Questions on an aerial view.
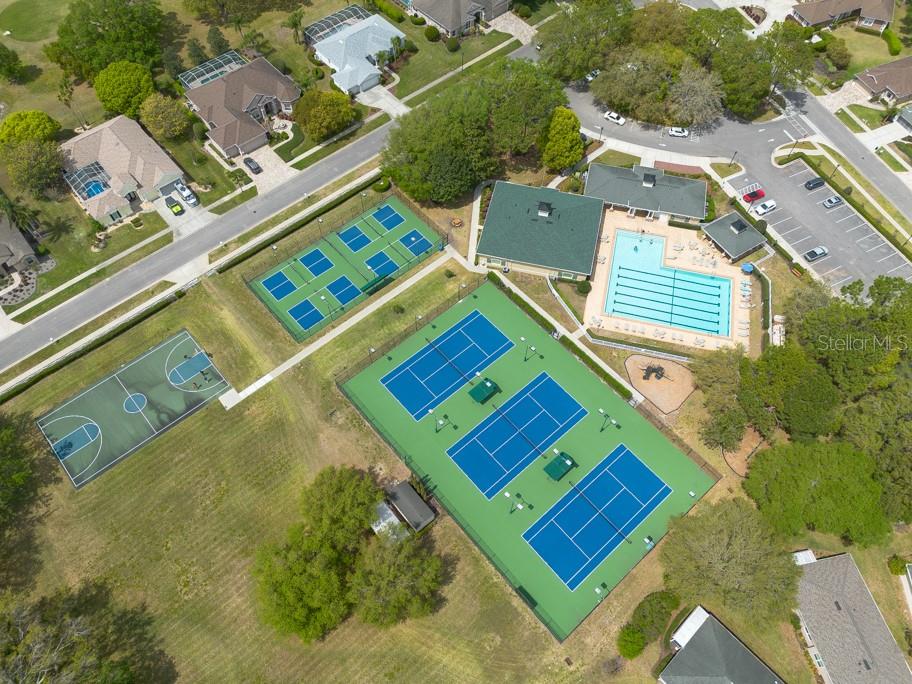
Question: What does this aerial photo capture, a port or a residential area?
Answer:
residential area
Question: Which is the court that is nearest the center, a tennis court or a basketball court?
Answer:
tennis court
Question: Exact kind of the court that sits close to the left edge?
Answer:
basketball court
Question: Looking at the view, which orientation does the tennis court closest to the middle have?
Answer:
diagonally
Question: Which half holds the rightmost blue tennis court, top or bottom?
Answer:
bottom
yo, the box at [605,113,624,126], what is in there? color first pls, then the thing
white vehicle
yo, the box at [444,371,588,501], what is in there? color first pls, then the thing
blue tennis court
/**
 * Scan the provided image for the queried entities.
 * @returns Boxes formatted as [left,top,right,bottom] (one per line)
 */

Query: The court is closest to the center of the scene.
[378,309,515,421]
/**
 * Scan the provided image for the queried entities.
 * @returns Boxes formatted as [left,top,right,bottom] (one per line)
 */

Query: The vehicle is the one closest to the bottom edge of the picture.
[801,248,828,264]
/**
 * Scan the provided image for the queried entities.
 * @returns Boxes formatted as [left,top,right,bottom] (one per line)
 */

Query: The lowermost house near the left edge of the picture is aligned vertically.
[0,202,42,293]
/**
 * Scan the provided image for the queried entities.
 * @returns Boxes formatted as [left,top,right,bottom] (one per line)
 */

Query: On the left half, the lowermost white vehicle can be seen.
[176,183,194,204]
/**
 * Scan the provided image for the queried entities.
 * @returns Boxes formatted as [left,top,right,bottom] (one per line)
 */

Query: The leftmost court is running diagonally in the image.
[32,327,231,490]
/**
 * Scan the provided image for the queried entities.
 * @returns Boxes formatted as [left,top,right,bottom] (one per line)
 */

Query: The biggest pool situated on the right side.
[601,229,733,339]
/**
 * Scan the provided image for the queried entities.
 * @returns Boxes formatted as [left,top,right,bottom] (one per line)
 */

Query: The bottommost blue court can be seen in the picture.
[519,444,671,592]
